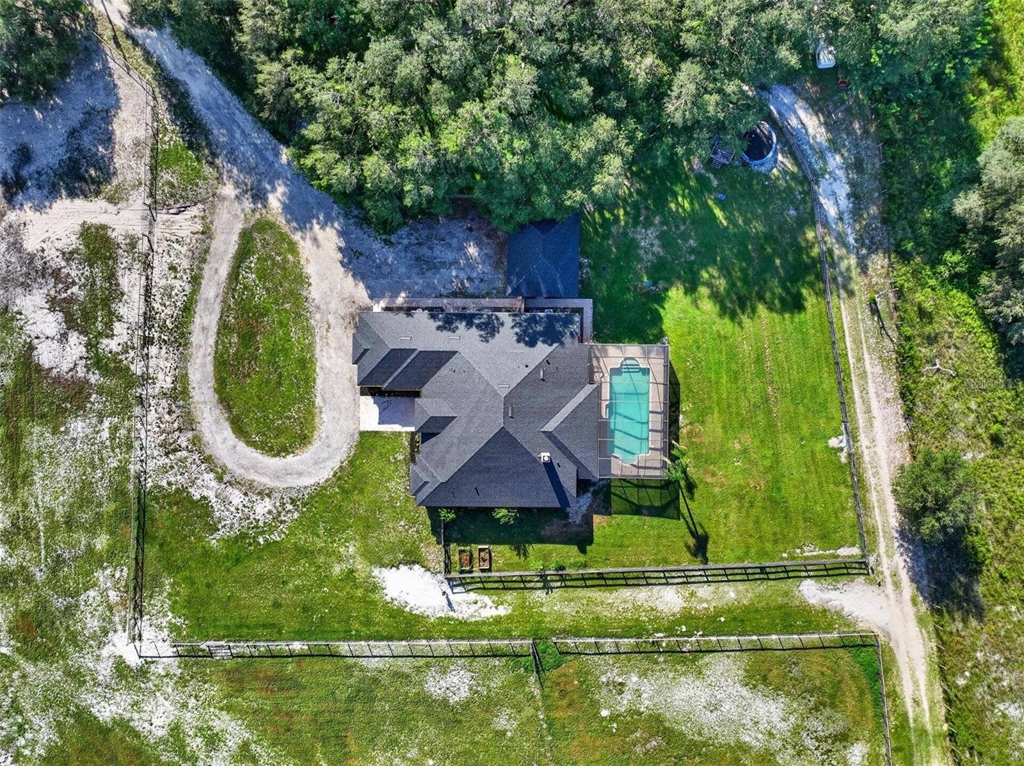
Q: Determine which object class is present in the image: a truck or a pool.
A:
pool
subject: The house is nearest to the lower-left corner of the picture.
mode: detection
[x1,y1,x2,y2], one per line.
[352,312,598,507]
